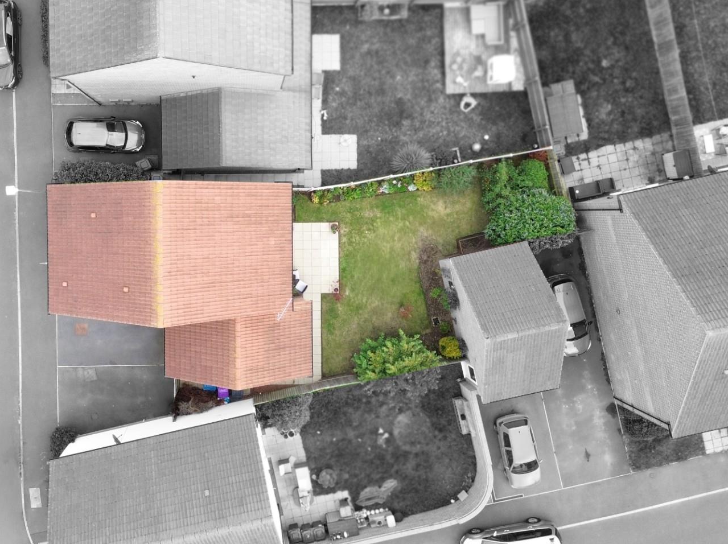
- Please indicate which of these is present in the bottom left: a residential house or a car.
residential house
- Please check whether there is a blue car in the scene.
No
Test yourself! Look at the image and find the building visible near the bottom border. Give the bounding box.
[48,399,282,544]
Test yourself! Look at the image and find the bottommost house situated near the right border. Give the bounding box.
[575,164,728,434]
